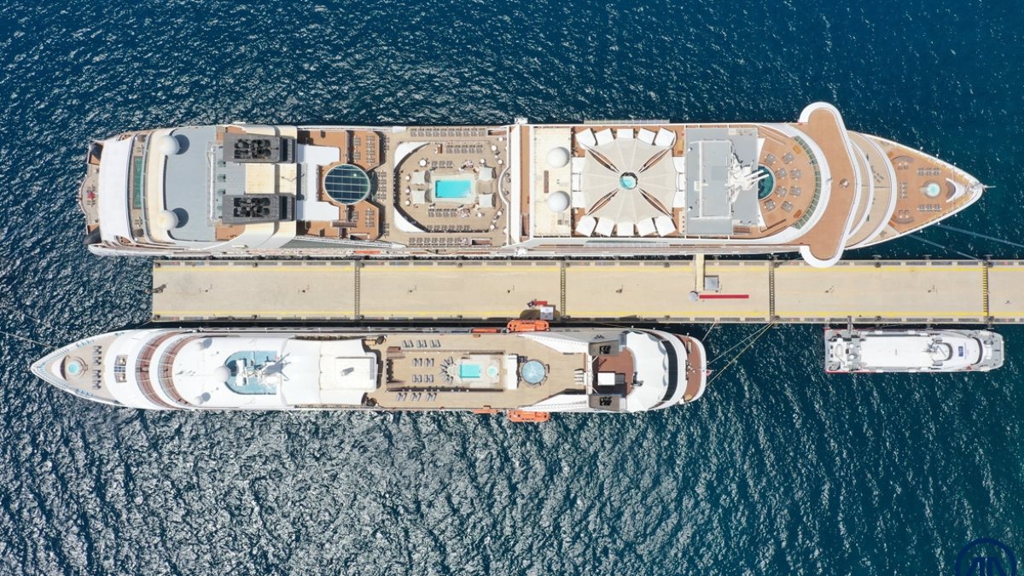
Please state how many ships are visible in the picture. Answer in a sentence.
The count of ships comes to 3.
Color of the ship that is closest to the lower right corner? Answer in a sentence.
In this view, the ship that is closest to the lower right corner is white.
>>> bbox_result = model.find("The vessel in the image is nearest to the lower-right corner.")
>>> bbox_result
[823,326,1005,374]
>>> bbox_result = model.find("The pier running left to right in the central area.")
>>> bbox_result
[153,259,1024,323]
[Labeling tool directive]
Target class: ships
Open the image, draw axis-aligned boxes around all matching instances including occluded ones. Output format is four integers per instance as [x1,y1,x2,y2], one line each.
[80,103,995,268]
[29,326,707,416]
[823,326,1005,374]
